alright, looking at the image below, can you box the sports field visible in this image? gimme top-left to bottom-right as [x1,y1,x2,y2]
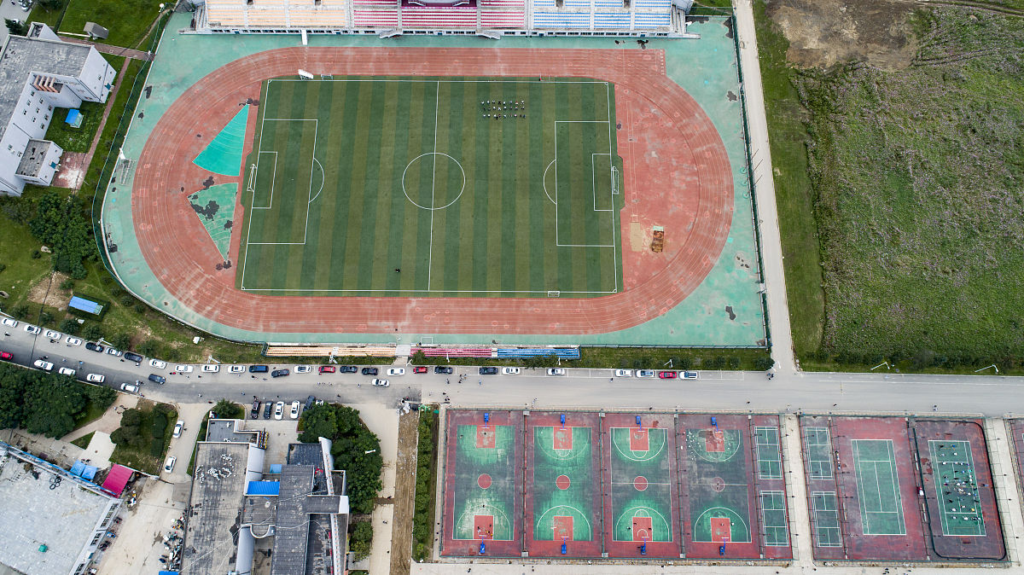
[235,75,625,298]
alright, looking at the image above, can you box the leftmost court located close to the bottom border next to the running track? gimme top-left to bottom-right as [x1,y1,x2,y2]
[441,411,523,557]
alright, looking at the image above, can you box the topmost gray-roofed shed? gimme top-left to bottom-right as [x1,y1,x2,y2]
[82,24,108,43]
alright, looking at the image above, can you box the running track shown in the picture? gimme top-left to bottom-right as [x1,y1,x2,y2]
[103,10,766,346]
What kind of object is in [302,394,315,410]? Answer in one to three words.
vehicle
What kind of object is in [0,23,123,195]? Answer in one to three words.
building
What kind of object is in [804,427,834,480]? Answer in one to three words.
sports court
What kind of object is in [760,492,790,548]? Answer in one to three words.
sports court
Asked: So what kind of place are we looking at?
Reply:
sports ground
